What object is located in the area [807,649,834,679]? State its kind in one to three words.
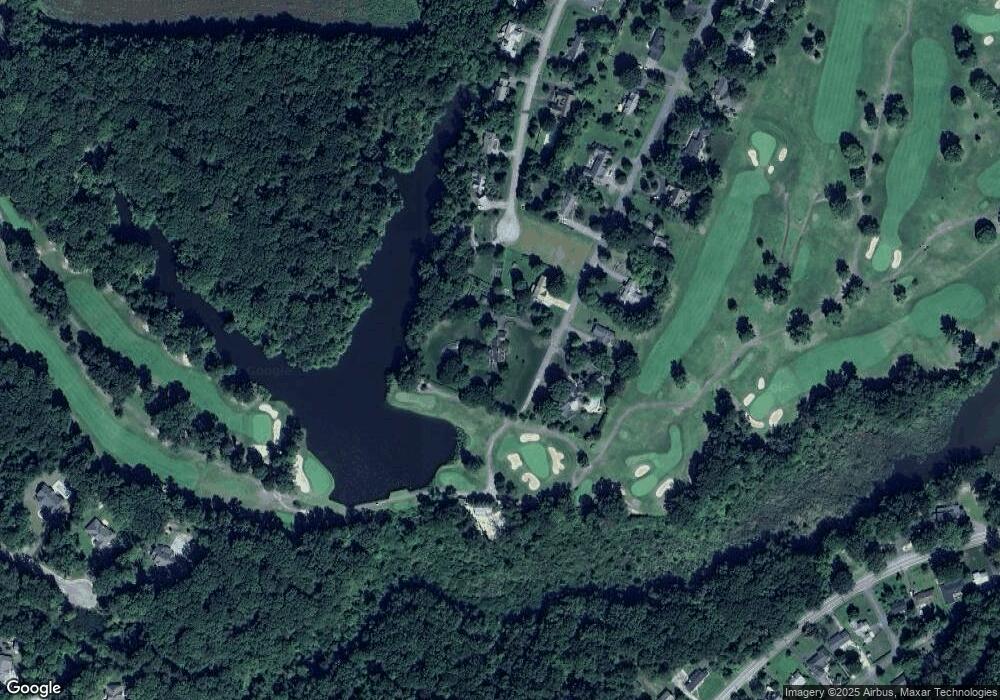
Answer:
house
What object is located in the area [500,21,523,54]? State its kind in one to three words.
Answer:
house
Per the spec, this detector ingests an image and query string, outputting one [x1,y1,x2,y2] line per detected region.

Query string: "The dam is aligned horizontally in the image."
[353,487,435,519]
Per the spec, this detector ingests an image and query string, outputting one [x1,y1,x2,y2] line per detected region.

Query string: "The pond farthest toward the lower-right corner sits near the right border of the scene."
[893,370,1000,478]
